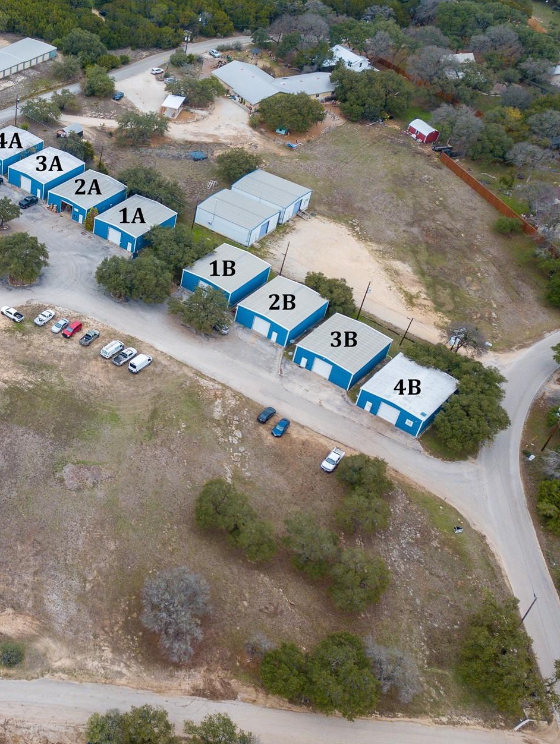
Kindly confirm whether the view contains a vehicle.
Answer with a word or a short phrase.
Yes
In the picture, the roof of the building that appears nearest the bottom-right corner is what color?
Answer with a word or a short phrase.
white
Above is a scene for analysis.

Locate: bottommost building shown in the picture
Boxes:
[354,353,458,437]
